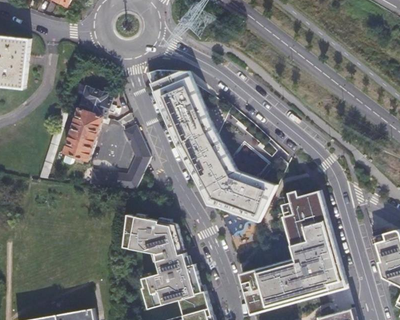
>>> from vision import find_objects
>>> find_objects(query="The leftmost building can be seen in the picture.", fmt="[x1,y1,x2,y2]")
[0,36,38,90]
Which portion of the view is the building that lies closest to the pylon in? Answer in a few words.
center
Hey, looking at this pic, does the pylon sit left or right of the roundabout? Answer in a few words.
to the right of it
